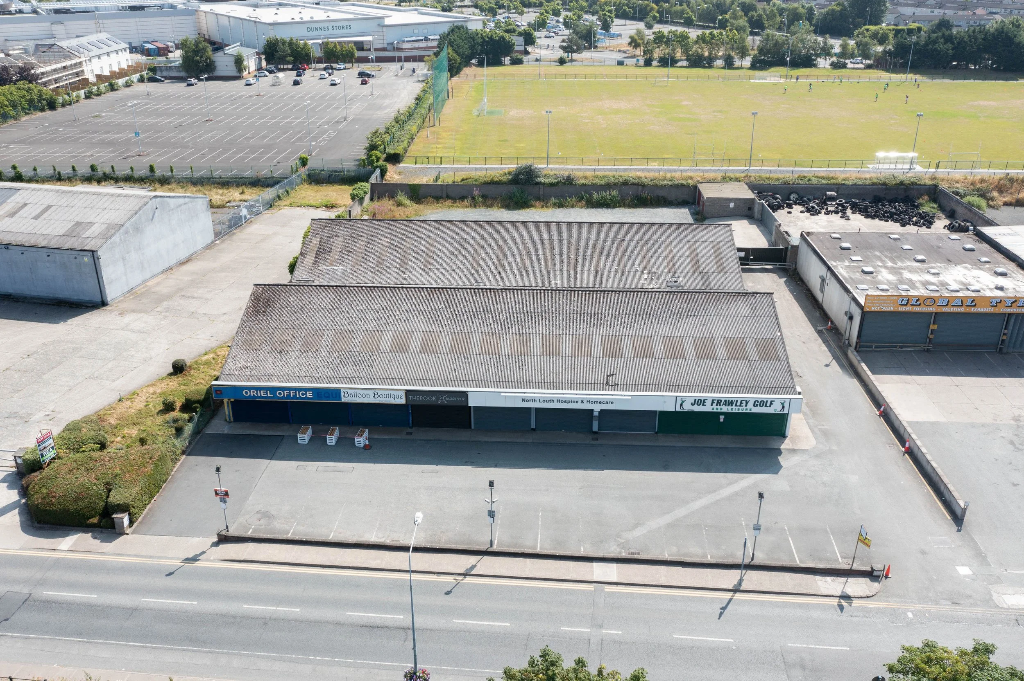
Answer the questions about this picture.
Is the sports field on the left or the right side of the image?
right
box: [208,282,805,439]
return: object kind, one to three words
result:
building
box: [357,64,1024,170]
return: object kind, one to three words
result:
sports field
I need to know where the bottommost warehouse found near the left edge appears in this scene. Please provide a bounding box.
[0,184,214,305]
